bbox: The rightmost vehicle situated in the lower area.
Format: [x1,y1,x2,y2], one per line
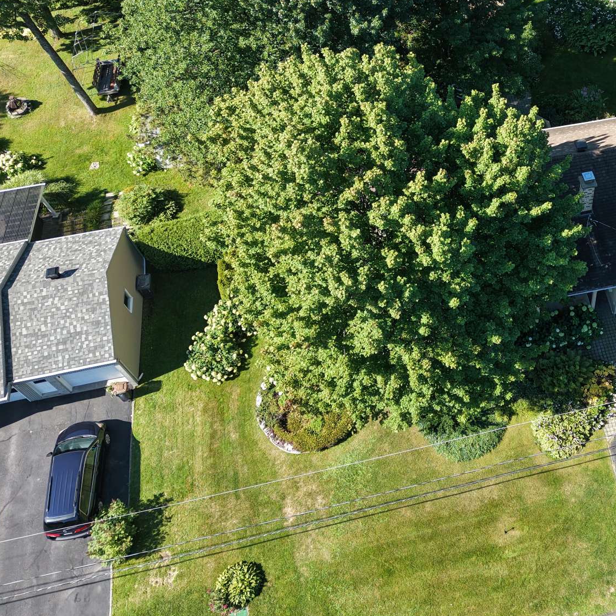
[33,420,108,547]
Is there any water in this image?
No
